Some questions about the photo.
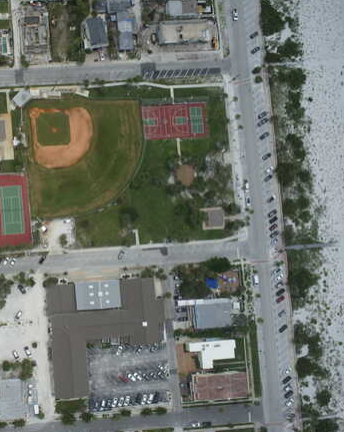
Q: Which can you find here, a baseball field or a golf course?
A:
baseball field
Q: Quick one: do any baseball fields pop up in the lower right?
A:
No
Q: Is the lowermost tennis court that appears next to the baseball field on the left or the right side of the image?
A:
left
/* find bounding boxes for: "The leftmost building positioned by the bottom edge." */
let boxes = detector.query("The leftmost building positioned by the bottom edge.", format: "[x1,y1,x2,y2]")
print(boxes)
[0,377,26,420]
